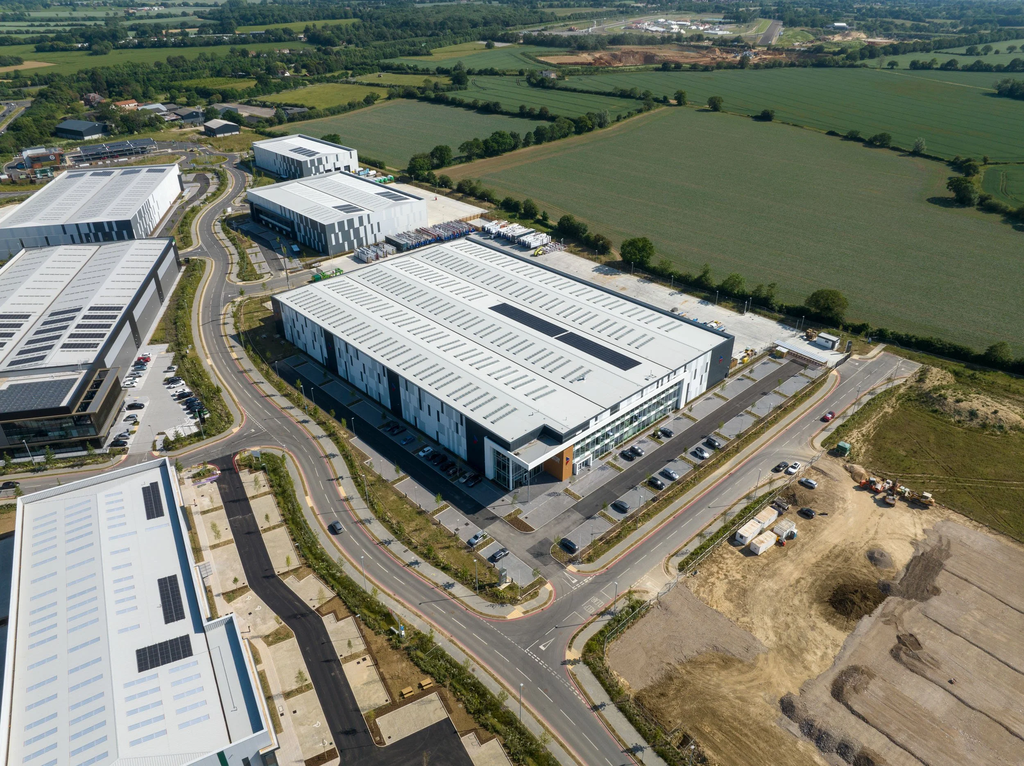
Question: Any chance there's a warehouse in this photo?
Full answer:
Yes, there's a warehouse down there.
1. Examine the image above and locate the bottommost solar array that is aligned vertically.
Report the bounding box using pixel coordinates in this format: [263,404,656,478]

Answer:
[158,575,185,625]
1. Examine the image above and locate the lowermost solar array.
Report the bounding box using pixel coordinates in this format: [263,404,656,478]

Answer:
[135,634,193,673]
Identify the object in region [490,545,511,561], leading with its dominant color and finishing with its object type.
gray car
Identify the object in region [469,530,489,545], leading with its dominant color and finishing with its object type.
gray car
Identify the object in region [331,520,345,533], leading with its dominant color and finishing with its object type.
gray vehicle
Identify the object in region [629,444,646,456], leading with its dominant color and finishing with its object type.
gray vehicle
